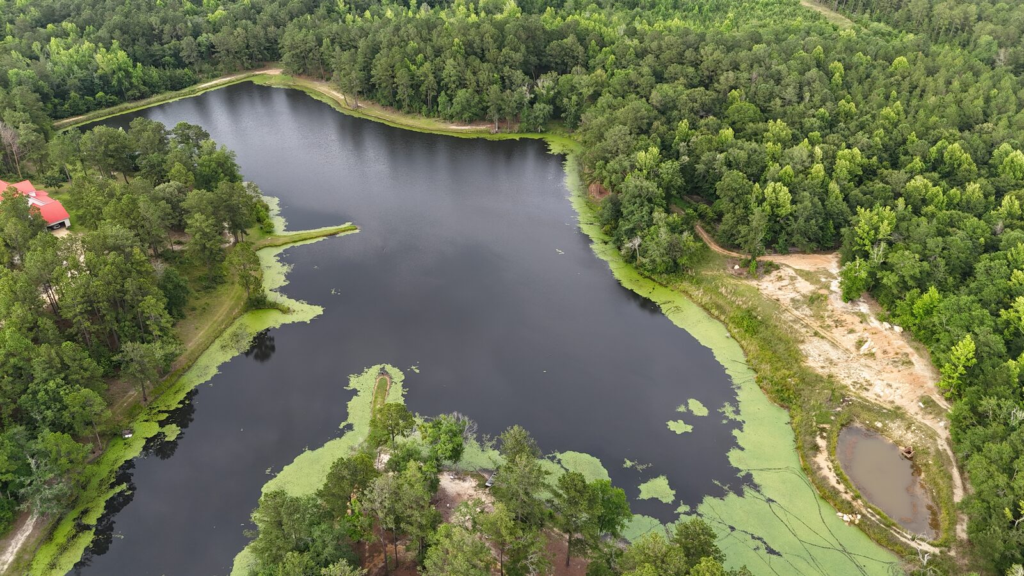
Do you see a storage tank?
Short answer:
No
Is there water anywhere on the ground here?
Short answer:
Yes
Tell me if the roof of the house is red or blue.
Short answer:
red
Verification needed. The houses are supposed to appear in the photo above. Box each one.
[0,179,70,232]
